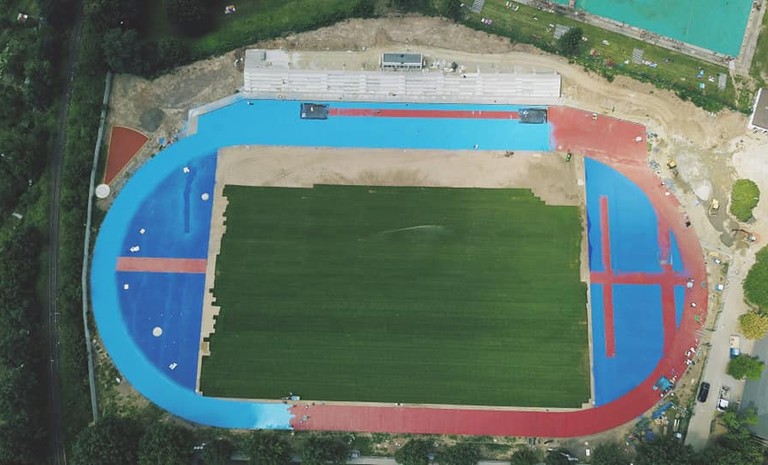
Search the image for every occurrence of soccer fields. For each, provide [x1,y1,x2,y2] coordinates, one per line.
[196,146,596,412]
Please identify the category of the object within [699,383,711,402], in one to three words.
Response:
vehicle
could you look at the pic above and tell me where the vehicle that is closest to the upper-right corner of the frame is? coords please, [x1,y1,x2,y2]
[666,157,681,177]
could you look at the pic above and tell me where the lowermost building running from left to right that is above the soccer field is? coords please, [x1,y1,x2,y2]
[380,52,424,74]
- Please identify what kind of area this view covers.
sports ground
